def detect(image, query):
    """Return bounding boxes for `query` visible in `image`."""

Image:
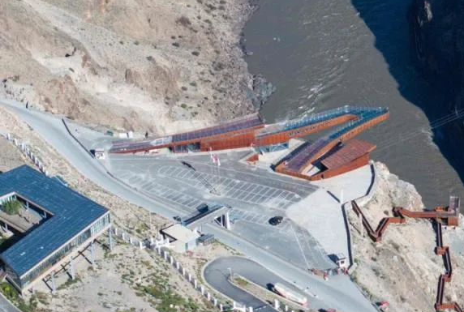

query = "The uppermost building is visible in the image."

[107,106,260,155]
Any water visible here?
Yes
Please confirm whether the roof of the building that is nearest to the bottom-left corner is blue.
Yes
